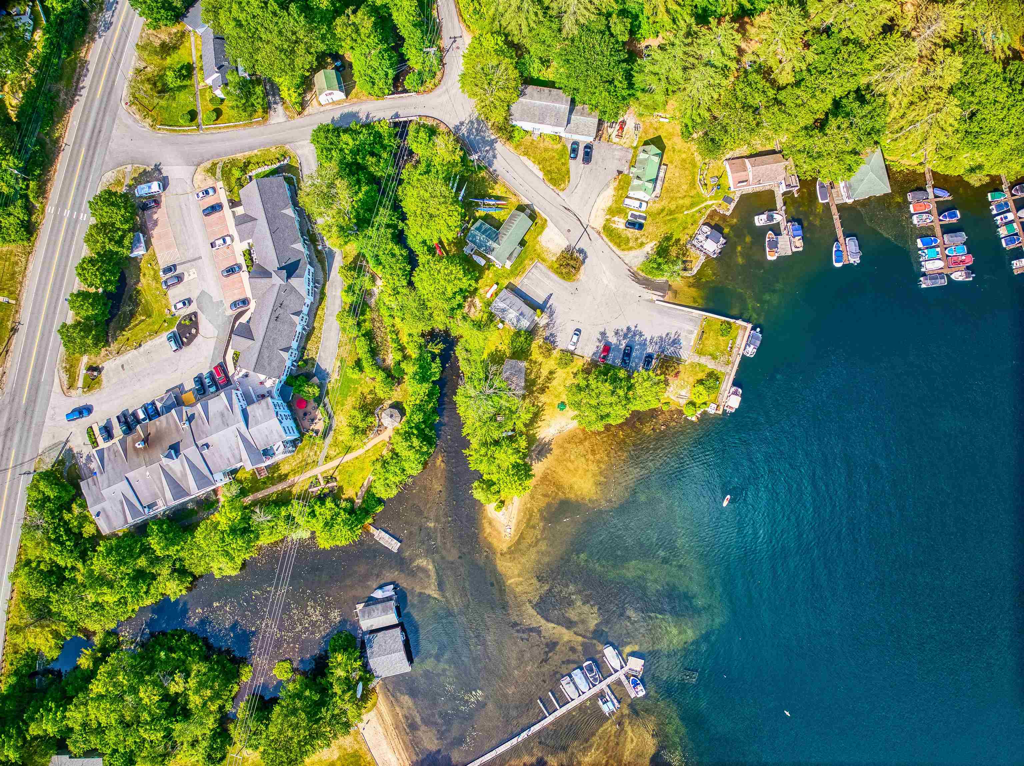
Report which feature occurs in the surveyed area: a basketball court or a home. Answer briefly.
home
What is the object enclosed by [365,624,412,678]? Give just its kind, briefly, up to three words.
building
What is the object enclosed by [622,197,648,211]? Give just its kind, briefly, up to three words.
vehicle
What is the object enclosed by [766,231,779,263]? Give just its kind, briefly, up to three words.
boat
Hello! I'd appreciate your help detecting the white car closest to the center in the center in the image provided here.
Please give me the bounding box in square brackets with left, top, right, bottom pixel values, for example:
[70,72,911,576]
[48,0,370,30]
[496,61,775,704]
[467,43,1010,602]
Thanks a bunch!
[568,328,581,350]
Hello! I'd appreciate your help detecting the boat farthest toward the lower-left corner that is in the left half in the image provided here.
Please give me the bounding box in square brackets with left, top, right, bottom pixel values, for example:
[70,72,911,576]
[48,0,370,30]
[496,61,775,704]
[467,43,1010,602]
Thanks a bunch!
[372,583,400,598]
